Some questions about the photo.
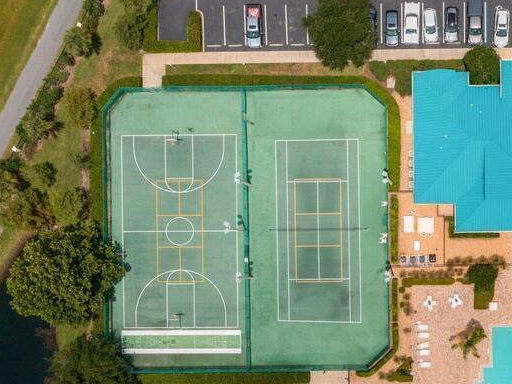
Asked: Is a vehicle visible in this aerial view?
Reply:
Yes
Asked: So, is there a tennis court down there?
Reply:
Yes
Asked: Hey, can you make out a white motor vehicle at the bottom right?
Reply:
No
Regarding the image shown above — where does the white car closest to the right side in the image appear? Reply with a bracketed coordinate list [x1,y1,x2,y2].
[494,7,510,48]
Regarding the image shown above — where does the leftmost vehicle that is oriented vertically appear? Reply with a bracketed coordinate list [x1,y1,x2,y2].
[245,4,263,49]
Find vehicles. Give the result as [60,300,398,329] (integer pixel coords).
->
[444,7,459,44]
[366,7,379,43]
[424,8,439,44]
[467,0,484,46]
[403,2,420,45]
[494,7,510,48]
[385,10,400,47]
[245,4,263,49]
